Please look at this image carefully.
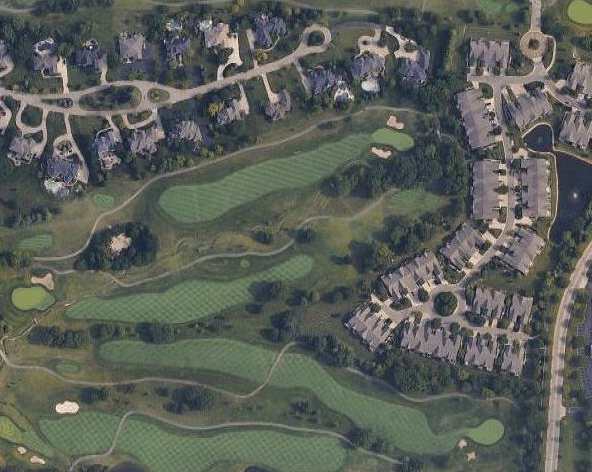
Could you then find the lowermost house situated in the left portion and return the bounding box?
[42,152,82,183]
